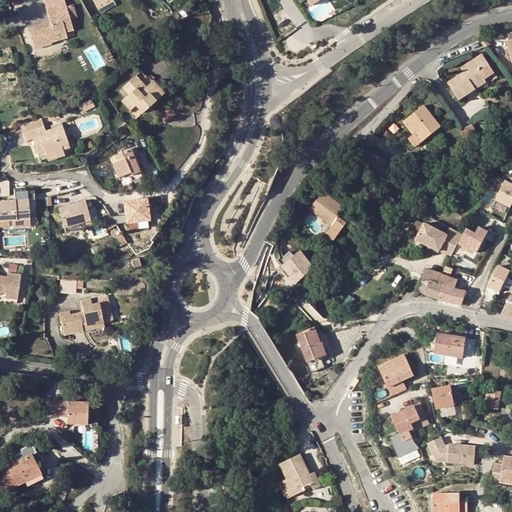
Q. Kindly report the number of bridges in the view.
1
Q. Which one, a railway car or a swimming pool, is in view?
swimming pool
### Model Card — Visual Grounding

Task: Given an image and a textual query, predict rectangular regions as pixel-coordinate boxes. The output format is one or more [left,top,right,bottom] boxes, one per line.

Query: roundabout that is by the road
[164,252,242,330]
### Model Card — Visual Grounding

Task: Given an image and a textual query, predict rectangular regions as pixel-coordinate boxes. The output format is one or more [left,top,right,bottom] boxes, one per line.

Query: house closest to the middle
[280,252,311,286]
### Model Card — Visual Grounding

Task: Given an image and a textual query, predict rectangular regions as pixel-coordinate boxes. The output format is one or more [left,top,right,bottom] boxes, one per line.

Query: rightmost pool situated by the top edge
[308,2,336,22]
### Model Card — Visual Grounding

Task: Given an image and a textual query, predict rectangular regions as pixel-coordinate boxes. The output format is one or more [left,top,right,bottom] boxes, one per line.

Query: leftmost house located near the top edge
[28,0,78,48]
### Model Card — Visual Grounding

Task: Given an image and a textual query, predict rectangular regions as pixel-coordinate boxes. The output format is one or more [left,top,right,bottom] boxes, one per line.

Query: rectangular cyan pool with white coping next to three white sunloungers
[84,45,106,72]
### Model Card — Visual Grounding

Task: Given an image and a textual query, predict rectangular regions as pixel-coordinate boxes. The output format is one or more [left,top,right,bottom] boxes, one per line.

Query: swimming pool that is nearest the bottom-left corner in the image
[82,430,98,452]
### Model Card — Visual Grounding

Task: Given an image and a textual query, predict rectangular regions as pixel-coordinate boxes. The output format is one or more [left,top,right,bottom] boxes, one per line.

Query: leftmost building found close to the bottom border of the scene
[8,446,43,490]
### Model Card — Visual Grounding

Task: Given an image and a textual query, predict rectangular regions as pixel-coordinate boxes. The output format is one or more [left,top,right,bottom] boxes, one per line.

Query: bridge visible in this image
[245,317,316,414]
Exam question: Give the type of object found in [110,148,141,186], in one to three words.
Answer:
house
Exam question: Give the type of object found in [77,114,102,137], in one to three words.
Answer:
swimming pool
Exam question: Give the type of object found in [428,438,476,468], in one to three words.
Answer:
house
